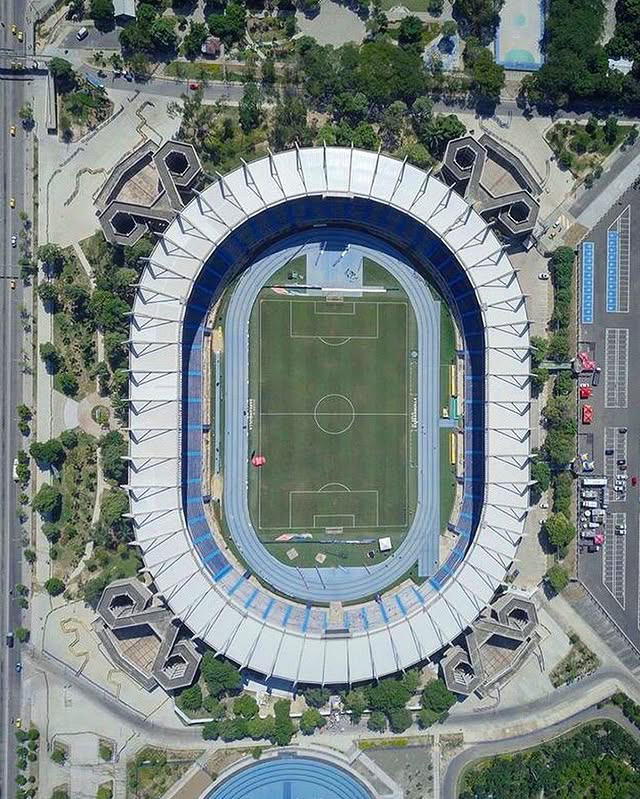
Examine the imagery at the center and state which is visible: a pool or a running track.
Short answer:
running track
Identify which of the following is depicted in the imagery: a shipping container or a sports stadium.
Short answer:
sports stadium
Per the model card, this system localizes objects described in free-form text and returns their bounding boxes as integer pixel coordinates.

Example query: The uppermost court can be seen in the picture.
[495,0,544,70]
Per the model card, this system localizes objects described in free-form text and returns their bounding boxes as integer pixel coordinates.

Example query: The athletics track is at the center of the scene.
[224,229,457,602]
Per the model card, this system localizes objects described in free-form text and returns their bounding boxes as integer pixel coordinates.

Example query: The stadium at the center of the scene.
[121,140,537,691]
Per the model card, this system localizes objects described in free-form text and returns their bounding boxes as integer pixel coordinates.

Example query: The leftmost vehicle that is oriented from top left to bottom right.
[84,70,104,89]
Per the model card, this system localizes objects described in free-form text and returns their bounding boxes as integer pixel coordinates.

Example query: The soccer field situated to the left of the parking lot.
[258,298,409,530]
